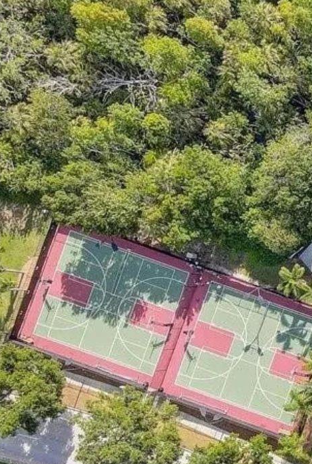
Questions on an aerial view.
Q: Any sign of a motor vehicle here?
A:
No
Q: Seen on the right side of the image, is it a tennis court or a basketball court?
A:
basketball court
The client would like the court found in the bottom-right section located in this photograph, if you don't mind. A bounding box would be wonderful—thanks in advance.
[159,273,312,432]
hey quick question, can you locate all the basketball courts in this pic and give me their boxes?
[159,273,312,432]
[18,227,204,394]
